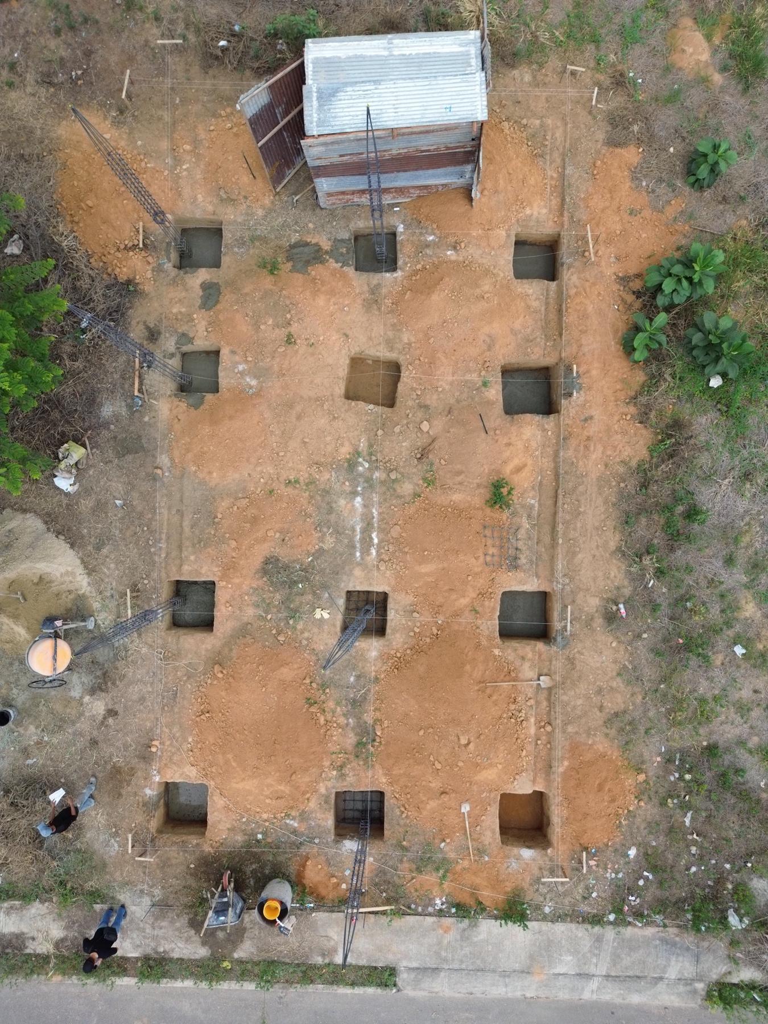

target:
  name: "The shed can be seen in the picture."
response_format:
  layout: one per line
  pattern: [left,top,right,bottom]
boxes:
[242,30,496,207]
